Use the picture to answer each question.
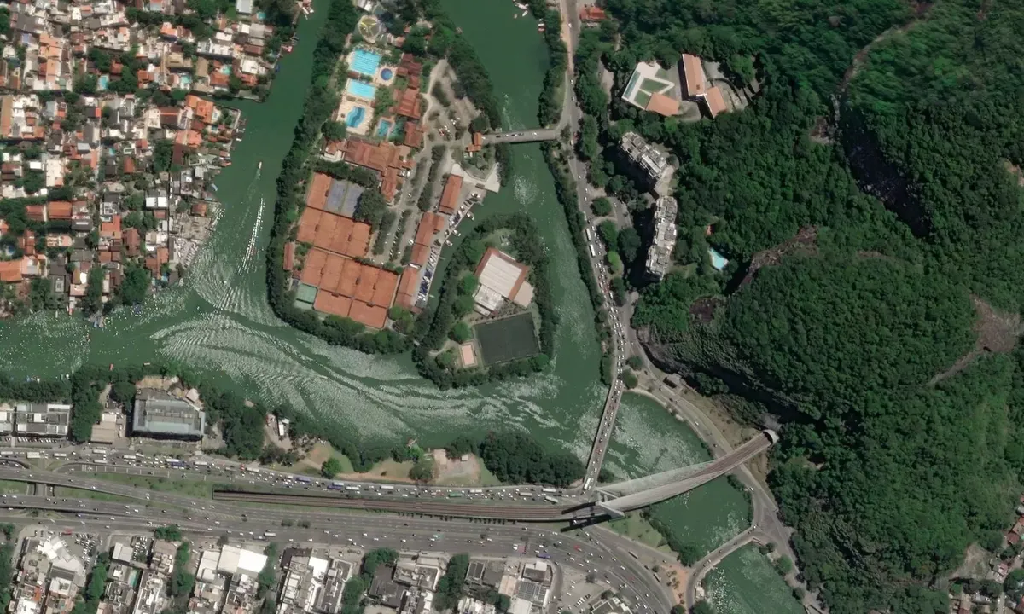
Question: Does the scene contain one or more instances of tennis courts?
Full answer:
Yes, looking at the shot, I can spot a tennis court.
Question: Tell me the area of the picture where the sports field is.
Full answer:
The sports field appears toward the center of the photo.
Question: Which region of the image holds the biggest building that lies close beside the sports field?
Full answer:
You can find the biggest building that lies close beside the sports field in the center area of the picture.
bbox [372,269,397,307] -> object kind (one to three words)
tennis court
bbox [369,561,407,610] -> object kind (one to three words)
building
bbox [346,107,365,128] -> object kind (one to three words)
swimming pool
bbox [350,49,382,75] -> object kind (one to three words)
swimming pool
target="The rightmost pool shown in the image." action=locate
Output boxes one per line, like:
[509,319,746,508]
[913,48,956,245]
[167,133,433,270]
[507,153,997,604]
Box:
[710,249,726,269]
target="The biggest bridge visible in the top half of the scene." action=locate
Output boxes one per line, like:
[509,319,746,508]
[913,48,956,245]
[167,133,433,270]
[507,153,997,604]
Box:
[481,129,562,144]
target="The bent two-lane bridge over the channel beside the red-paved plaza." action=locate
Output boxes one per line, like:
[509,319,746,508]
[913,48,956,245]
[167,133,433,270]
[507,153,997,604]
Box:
[683,524,763,614]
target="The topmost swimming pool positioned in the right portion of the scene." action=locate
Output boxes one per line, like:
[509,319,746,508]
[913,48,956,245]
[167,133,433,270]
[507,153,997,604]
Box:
[623,70,641,99]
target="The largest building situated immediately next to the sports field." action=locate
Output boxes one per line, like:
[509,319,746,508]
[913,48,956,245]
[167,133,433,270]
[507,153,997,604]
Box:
[475,247,530,303]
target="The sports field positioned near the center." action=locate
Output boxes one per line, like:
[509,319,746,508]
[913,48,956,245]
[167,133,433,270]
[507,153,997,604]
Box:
[476,313,540,365]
